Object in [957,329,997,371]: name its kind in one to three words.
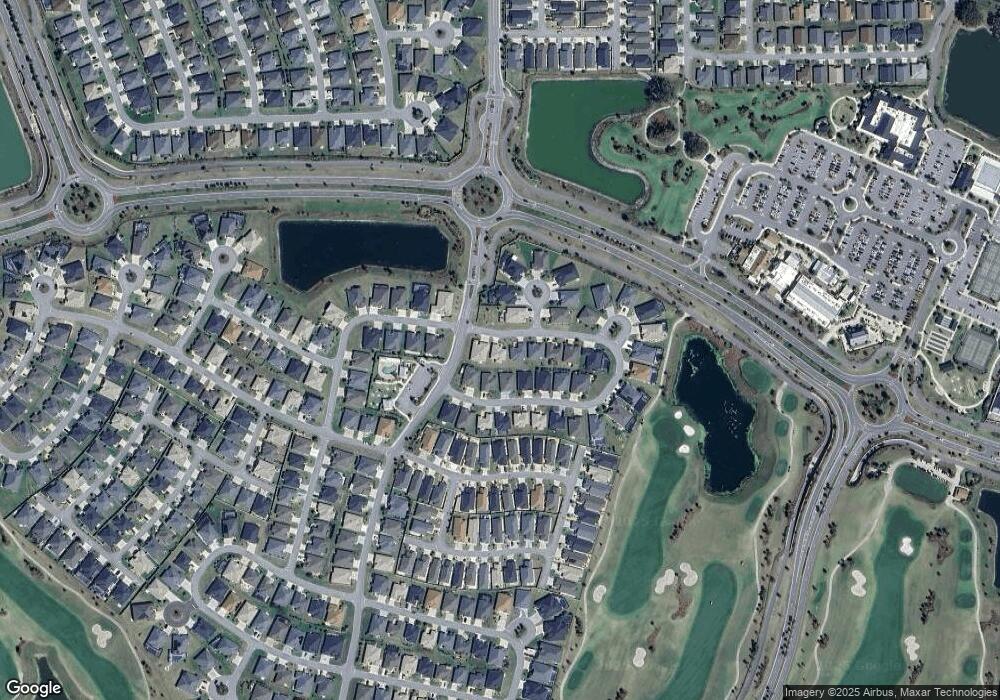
tennis court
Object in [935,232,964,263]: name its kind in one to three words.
roundabout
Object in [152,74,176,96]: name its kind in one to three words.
house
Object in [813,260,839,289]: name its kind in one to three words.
building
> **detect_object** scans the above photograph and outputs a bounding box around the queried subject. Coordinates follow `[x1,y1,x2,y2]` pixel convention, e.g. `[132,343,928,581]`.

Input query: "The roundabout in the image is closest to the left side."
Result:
[51,171,113,231]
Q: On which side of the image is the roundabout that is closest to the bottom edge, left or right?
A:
right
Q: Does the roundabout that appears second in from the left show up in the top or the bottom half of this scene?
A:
top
